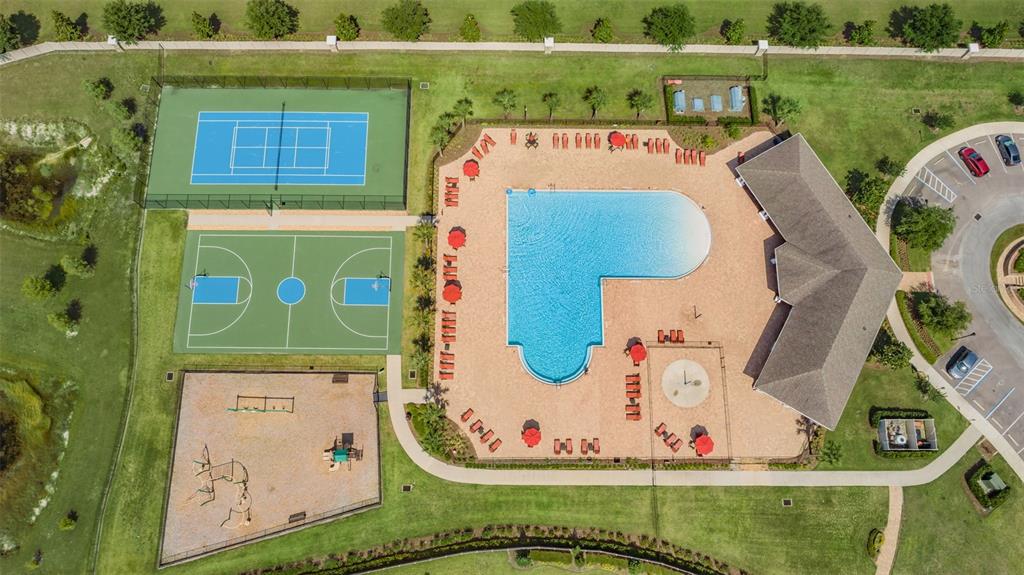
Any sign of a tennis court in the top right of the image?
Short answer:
No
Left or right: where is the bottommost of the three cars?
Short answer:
right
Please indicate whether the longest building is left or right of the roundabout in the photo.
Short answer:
on its left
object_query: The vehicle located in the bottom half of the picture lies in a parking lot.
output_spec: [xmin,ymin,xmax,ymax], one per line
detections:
[947,349,978,379]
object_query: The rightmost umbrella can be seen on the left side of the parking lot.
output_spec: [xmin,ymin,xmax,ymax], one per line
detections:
[694,434,714,454]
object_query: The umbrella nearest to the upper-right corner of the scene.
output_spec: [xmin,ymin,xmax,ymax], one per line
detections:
[608,132,625,148]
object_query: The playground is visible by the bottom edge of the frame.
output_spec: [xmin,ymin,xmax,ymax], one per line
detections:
[157,369,384,570]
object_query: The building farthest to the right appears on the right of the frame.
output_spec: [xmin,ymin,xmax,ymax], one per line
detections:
[734,133,903,431]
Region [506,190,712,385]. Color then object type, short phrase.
blue swimming pool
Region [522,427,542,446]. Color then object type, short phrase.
red umbrella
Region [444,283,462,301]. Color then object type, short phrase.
red umbrella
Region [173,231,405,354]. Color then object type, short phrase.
green basketball court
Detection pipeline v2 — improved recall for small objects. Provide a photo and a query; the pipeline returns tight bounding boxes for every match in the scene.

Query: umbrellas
[608,132,625,148]
[629,344,647,363]
[448,230,466,249]
[694,434,714,454]
[463,160,481,178]
[522,427,542,446]
[444,283,462,301]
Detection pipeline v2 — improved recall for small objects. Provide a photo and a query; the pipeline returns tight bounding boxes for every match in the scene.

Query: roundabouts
[957,194,1024,355]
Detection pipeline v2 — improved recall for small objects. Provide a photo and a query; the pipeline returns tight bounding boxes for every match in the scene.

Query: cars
[947,349,978,379]
[961,147,994,177]
[995,136,1024,166]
